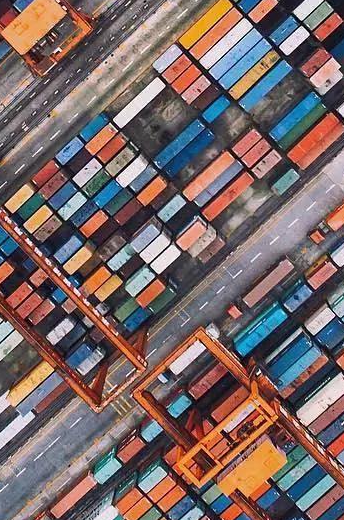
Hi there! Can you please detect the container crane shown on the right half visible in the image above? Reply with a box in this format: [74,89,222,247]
[129,322,344,520]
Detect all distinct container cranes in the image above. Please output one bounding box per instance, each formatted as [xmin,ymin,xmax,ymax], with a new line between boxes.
[129,322,344,520]
[0,200,159,417]
[0,0,101,80]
